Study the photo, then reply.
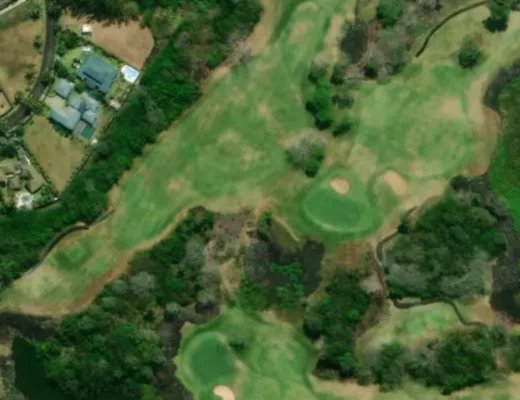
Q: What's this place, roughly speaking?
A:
golf course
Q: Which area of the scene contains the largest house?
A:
top left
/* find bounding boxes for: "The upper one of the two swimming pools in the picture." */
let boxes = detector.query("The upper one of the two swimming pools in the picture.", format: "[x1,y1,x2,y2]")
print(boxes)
[121,64,140,82]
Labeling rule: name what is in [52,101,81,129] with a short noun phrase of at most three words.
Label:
house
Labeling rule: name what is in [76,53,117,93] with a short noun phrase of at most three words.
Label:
house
